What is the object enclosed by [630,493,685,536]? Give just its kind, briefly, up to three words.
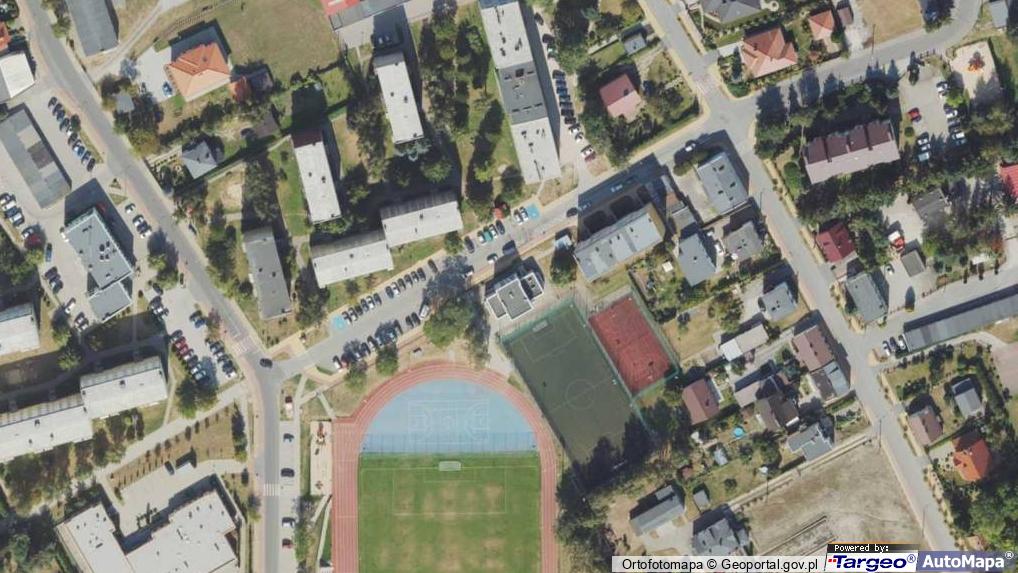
barn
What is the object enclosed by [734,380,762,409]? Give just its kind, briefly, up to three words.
house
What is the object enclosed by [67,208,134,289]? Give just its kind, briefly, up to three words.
building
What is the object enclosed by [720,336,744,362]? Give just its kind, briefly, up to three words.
shed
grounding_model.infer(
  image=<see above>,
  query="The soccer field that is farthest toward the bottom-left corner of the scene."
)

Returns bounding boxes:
[358,453,541,573]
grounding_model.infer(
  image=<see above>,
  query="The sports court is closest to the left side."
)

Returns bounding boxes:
[359,378,539,452]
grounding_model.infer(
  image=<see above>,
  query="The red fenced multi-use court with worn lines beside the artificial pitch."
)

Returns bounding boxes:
[590,298,671,394]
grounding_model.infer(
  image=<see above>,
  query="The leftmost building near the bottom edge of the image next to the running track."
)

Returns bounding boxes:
[56,487,249,573]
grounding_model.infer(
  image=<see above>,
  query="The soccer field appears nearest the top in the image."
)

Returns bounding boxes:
[505,305,644,476]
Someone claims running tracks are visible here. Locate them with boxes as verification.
[332,360,559,573]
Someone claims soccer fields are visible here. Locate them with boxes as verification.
[505,305,644,476]
[358,453,541,573]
